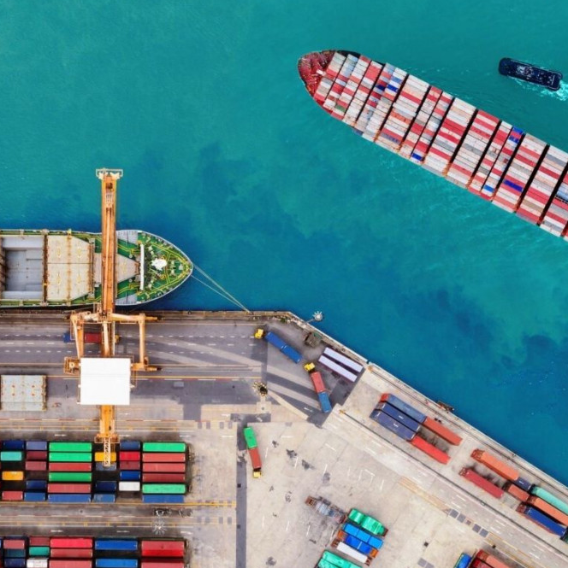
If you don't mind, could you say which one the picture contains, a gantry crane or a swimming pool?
gantry crane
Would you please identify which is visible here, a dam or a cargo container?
cargo container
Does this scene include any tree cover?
No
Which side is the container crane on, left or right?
left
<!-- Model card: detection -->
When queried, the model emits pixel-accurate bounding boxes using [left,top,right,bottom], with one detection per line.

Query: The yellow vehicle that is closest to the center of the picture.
[253,328,271,341]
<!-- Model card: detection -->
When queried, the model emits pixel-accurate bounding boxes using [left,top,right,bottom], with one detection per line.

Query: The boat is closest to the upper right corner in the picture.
[496,58,564,94]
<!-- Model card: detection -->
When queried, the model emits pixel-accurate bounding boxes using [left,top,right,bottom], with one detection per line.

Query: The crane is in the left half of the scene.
[68,167,163,468]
